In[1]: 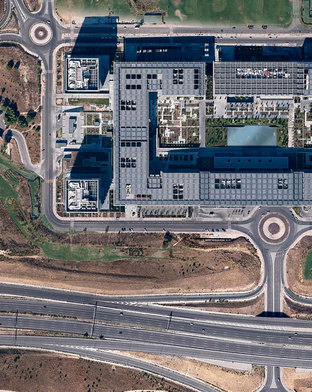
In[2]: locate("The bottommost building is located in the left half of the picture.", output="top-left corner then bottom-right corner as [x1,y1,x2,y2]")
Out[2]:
[66,173,109,212]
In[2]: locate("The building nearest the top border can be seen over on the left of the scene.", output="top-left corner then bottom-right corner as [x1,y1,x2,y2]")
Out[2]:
[65,56,110,91]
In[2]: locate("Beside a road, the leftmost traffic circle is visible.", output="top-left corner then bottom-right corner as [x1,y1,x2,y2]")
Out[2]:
[21,13,61,54]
